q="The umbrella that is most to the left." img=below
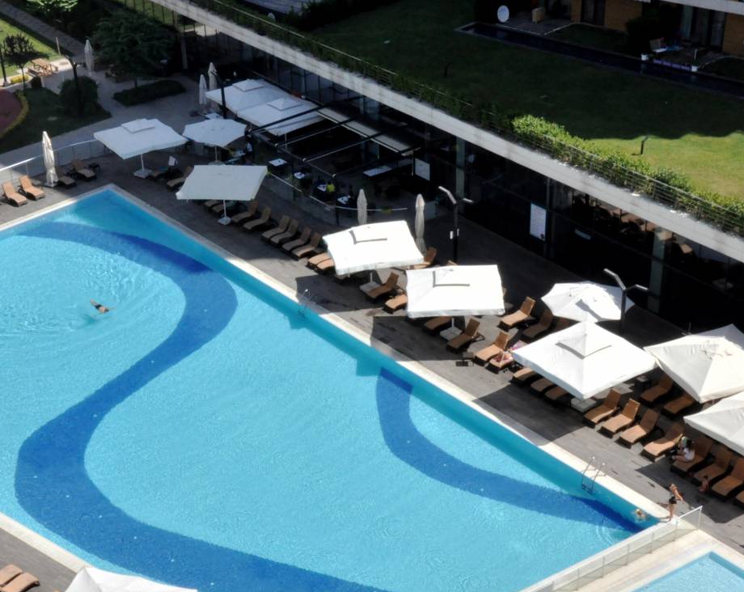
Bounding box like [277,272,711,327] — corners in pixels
[42,131,57,187]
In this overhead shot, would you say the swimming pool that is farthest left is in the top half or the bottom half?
bottom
